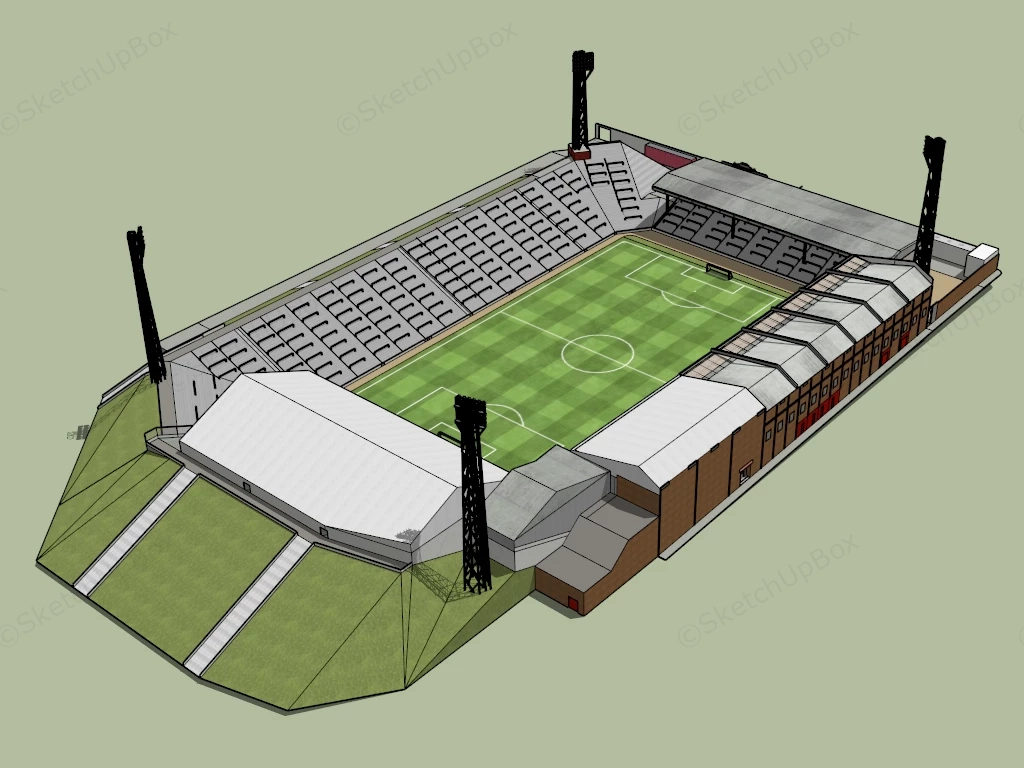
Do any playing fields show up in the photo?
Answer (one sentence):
Yes, looking at the shot, I can spot a playing field.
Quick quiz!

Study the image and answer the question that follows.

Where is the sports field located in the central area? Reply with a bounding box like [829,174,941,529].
[353,237,787,471]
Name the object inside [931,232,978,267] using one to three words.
building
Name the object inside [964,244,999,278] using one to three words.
shed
